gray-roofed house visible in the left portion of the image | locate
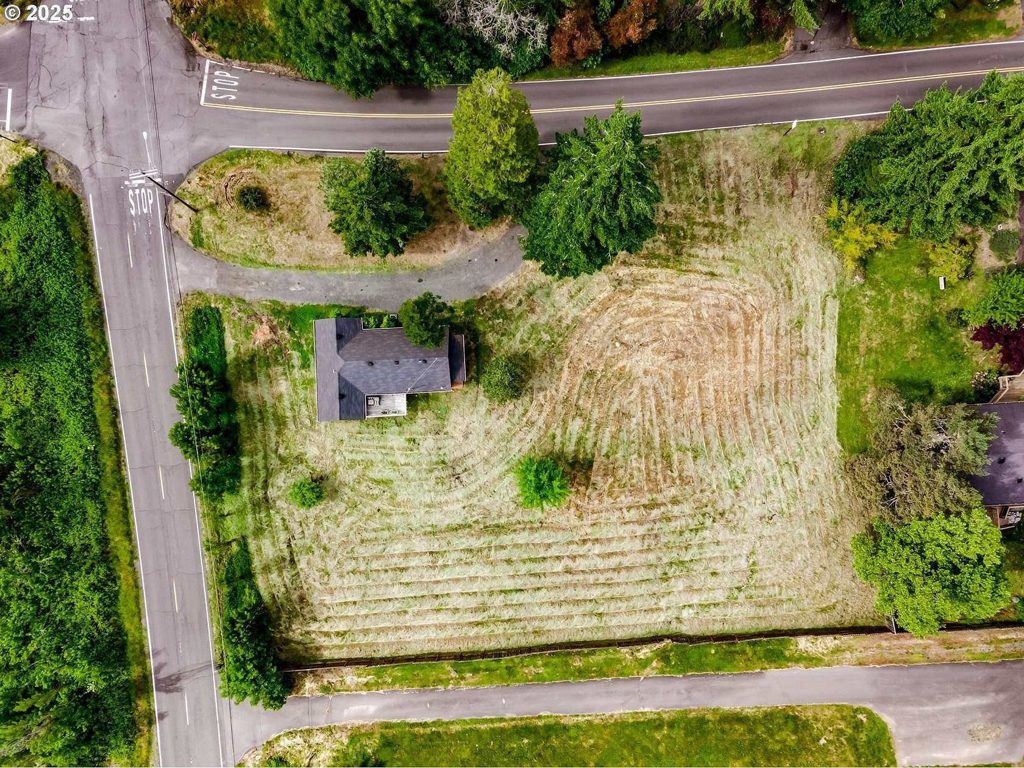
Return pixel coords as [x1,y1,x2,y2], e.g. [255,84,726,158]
[314,316,467,422]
